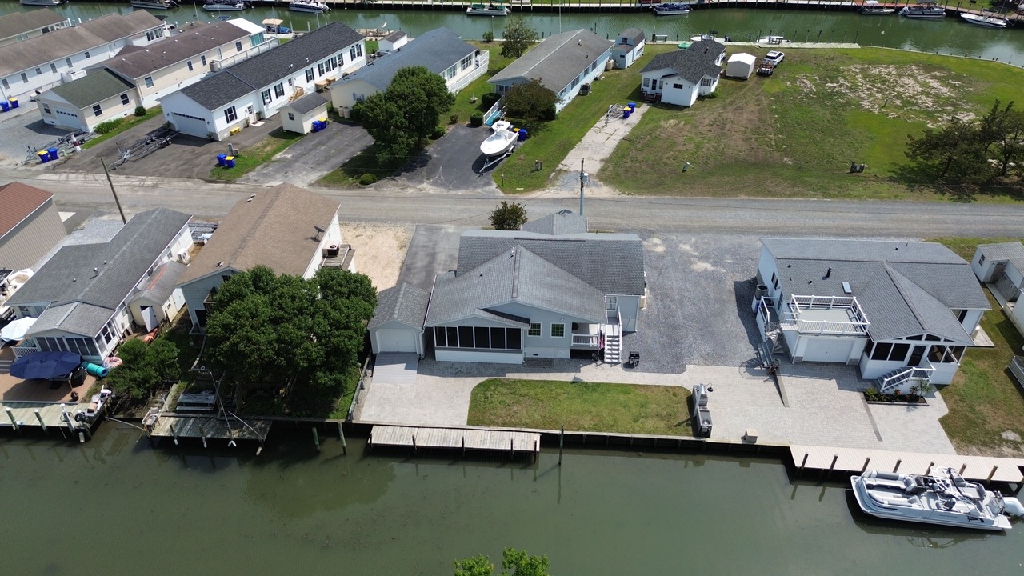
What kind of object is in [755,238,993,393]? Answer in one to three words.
house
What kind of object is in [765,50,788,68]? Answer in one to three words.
car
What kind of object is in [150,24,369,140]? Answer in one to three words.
house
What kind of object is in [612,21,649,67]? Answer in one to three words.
shed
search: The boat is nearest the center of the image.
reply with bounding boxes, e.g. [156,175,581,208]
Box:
[487,119,529,156]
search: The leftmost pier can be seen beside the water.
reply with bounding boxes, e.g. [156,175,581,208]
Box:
[0,404,77,431]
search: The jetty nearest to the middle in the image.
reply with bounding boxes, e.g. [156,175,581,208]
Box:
[368,426,540,470]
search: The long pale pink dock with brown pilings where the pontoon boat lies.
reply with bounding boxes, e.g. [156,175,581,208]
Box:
[790,444,1024,497]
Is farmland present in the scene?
No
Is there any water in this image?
Yes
